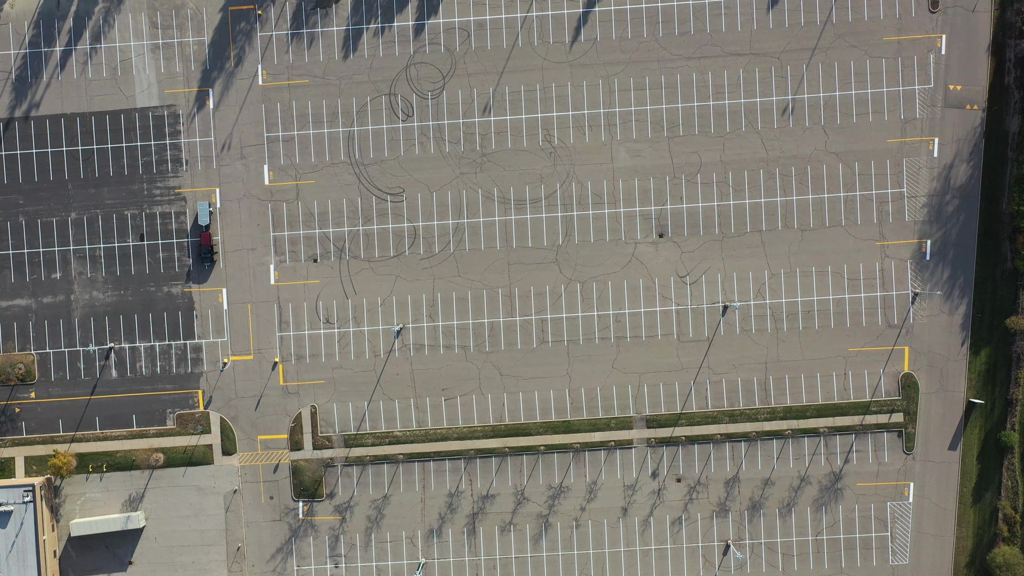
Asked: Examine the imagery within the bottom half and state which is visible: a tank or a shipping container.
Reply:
shipping container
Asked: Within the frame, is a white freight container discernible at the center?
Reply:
No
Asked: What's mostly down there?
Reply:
paved ground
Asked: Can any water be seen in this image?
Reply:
No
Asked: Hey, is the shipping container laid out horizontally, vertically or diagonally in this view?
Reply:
horizontally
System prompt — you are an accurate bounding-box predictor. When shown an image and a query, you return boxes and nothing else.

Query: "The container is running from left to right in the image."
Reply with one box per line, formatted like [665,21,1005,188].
[69,511,144,536]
